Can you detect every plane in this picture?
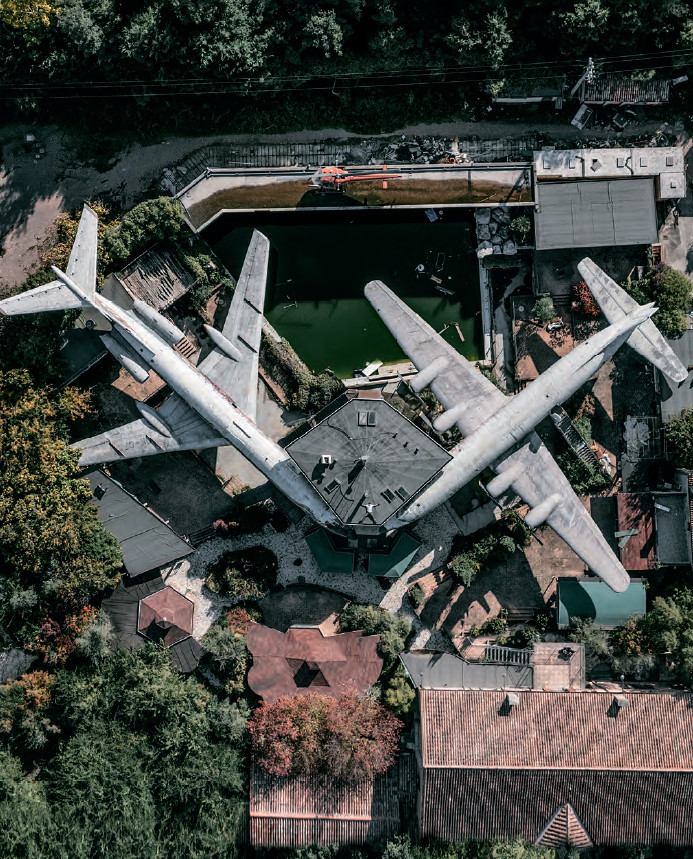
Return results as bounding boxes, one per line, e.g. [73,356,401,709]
[368,259,687,586]
[0,205,351,534]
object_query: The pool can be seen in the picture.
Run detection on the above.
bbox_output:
[196,209,487,395]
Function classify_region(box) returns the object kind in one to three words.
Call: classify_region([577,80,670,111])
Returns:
shed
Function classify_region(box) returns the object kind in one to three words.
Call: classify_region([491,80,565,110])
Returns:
shed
